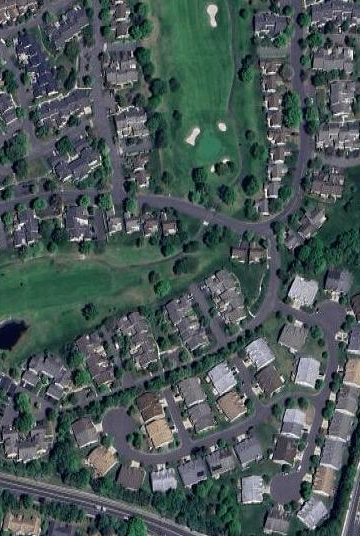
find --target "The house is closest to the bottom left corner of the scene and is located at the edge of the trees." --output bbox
[1,513,41,536]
